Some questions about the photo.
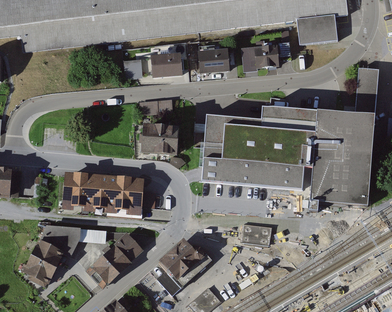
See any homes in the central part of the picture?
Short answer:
Yes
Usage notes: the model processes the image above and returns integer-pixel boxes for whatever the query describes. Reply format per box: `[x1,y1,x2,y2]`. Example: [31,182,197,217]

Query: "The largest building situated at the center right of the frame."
[200,106,376,214]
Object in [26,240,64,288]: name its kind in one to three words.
house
